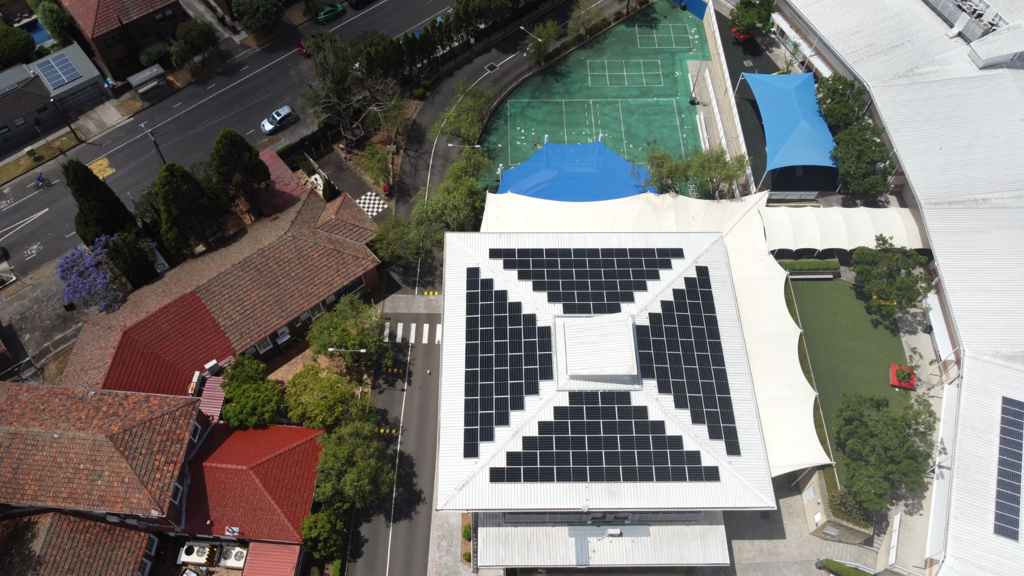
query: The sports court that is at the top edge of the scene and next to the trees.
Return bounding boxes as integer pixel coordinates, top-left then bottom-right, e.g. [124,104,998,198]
[470,0,712,207]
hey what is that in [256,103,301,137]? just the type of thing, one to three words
car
